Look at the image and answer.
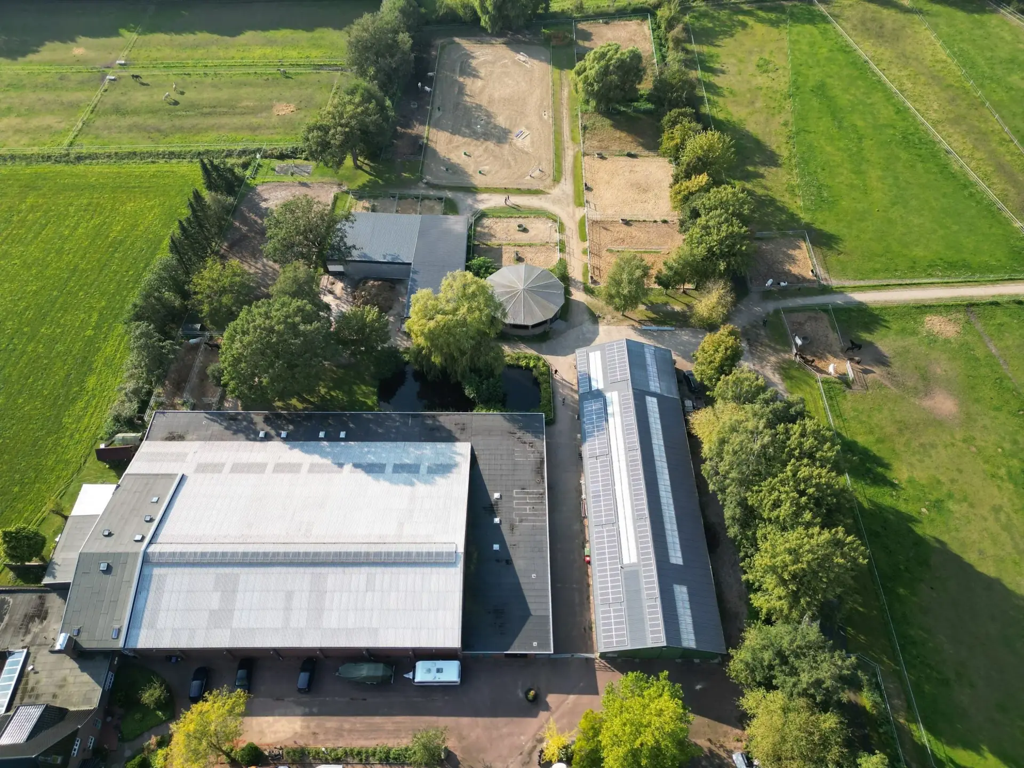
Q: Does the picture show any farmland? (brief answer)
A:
Yes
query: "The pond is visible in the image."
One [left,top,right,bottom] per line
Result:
[375,361,542,411]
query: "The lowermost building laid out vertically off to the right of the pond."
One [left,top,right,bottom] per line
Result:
[575,339,729,660]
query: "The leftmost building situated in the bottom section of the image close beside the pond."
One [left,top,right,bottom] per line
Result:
[47,411,553,667]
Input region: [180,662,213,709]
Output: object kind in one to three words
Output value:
car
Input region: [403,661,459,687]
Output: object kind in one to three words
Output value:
camper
